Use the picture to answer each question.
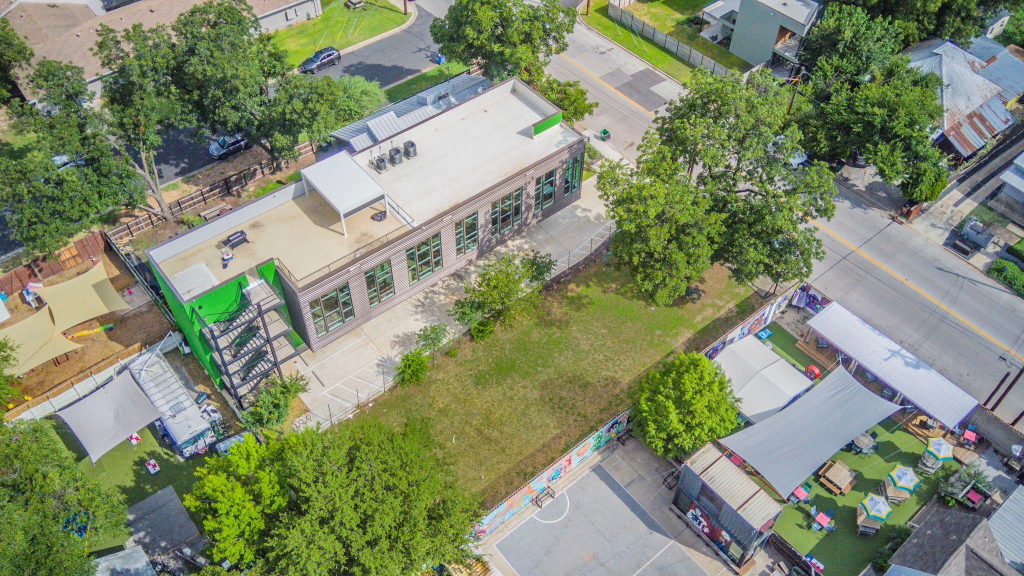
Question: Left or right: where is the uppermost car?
left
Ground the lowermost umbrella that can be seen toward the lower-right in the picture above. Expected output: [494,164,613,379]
[860,493,892,523]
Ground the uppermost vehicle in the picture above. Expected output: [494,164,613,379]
[298,44,343,74]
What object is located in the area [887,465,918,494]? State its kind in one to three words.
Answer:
umbrella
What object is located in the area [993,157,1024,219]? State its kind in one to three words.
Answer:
house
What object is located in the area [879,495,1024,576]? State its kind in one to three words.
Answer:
house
